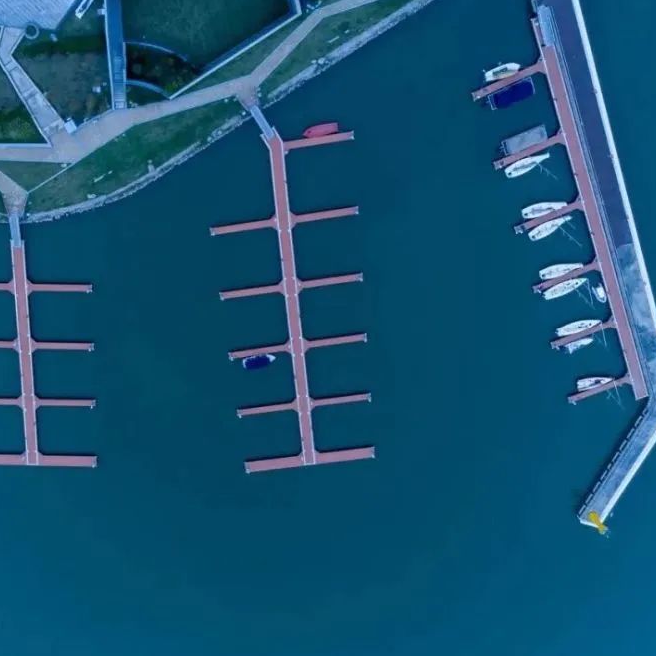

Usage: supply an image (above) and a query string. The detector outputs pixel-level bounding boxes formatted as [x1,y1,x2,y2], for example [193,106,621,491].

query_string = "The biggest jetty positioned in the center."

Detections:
[210,126,375,475]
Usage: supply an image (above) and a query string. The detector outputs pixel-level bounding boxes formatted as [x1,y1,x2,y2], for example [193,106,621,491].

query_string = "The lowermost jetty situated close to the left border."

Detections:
[0,238,98,470]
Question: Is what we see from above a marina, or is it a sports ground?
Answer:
marina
